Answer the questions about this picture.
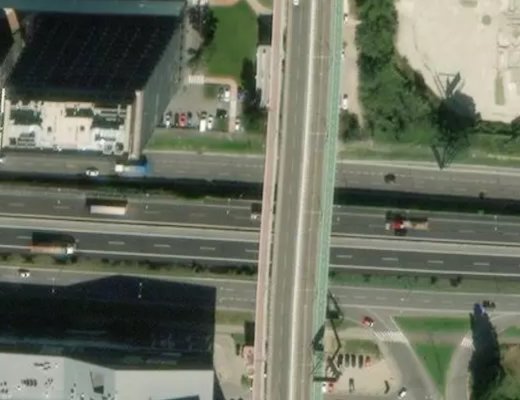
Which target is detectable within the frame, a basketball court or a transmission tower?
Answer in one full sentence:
I can see a transmission tower in this picture.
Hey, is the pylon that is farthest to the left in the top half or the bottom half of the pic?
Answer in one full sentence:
The bottom half of the photo is where the pylon that is farthest to the left is.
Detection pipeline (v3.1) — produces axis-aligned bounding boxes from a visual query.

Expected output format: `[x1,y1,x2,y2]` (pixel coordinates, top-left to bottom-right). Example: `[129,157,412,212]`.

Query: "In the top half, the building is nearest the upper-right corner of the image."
[255,39,272,105]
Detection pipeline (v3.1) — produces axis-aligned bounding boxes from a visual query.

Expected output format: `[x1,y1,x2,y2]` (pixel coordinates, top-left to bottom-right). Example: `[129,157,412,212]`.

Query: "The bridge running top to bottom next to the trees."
[252,0,346,400]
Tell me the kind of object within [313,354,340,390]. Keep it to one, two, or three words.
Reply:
pylon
